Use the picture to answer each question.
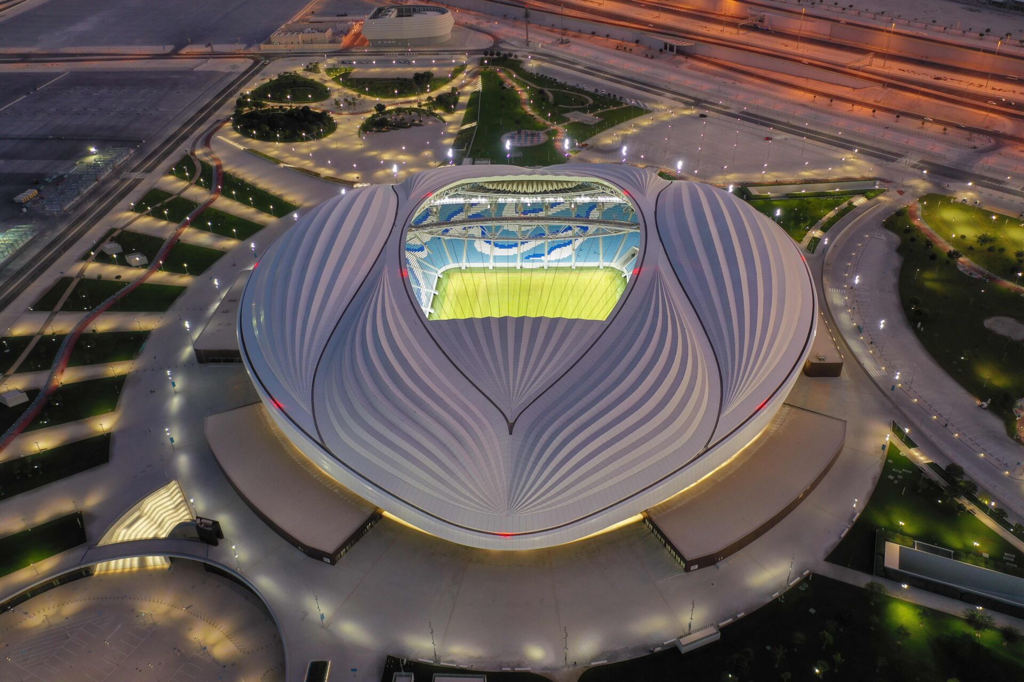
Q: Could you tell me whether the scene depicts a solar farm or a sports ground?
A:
sports ground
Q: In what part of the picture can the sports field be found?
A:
center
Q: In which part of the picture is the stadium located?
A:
center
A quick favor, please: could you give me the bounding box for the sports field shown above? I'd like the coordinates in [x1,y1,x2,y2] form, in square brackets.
[441,275,614,328]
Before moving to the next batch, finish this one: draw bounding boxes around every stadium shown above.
[237,160,819,550]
